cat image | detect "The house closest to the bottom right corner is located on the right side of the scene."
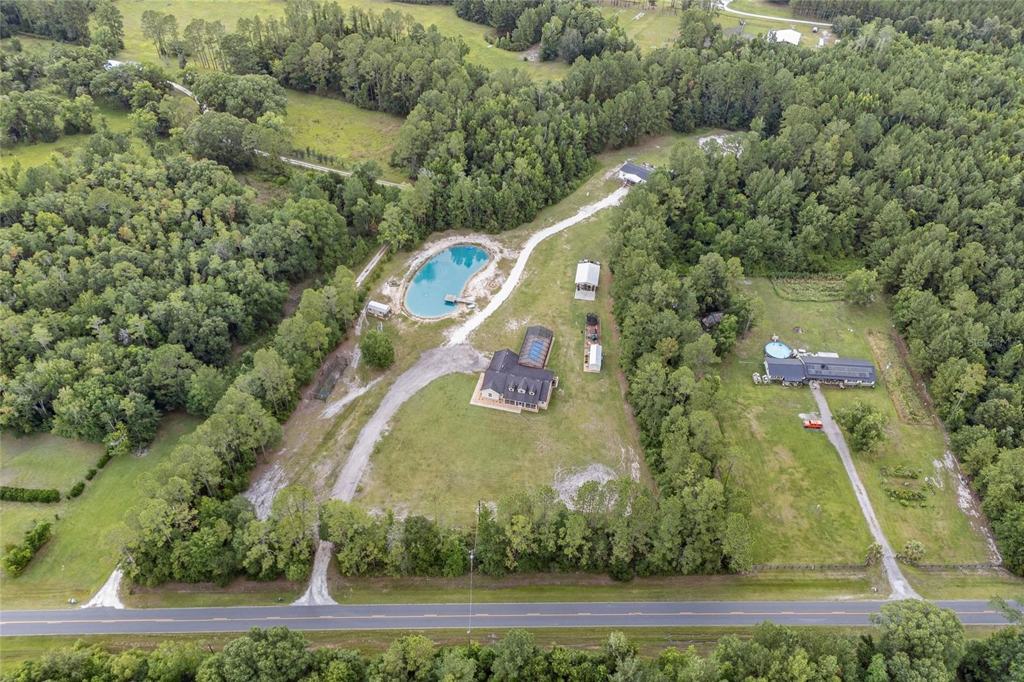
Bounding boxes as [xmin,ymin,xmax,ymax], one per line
[762,355,880,388]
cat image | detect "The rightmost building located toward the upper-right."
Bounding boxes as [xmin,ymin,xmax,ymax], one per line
[763,28,801,46]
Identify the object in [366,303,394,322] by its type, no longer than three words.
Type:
building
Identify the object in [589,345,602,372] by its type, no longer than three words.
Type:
shed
